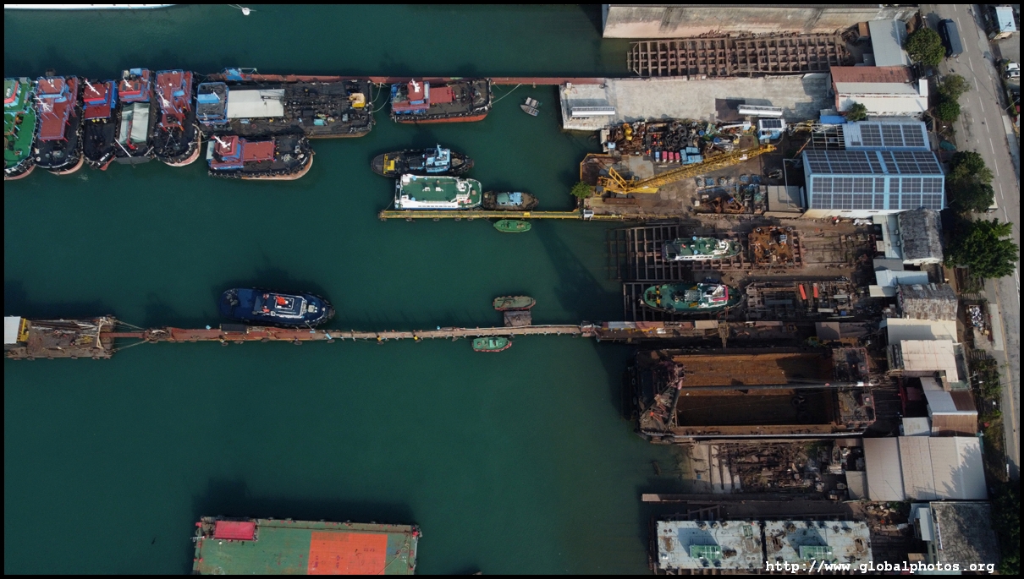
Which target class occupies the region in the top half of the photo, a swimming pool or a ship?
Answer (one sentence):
You can see a ship in the top half of the photo.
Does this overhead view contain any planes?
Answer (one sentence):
No, there's no plane here.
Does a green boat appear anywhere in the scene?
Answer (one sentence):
Yes, the frame does contain a green boat.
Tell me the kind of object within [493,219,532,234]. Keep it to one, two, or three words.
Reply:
boat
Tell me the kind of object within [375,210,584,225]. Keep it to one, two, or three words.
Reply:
pier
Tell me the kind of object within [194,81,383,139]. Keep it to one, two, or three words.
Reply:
ship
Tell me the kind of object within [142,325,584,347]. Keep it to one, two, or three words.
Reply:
pier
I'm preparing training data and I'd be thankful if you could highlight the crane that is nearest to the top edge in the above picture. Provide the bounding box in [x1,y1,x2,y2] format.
[596,144,781,198]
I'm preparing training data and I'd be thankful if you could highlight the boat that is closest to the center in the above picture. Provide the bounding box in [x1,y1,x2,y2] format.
[492,292,536,311]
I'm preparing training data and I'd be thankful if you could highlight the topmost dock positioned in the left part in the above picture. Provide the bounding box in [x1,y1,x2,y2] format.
[200,71,604,89]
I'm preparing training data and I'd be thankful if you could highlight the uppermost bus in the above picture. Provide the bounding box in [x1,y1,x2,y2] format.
[941,21,963,59]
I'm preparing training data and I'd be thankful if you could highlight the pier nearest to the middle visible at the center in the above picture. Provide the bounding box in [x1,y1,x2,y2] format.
[504,311,531,327]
